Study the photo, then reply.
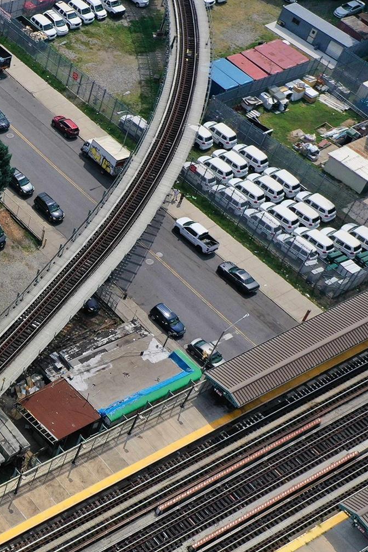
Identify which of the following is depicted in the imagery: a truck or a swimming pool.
truck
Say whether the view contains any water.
No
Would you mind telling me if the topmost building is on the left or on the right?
right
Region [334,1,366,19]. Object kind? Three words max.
car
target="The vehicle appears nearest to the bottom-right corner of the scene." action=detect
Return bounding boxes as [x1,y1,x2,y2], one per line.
[183,338,222,372]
